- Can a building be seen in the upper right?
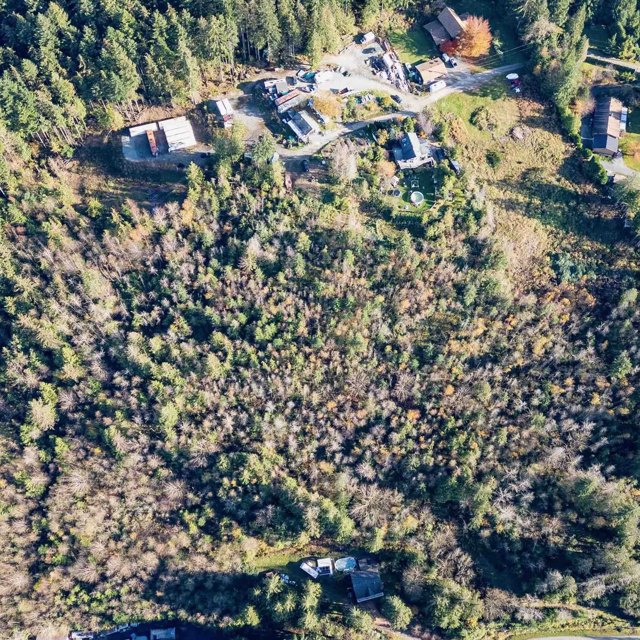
Yes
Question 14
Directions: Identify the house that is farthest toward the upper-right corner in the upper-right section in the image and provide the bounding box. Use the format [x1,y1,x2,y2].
[591,95,623,138]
